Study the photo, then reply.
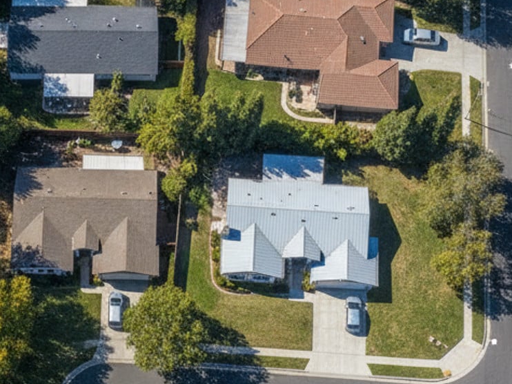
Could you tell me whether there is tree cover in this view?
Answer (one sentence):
Yes, tree cover shows up in the scene.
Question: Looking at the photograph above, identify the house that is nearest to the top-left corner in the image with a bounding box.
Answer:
[0,0,158,104]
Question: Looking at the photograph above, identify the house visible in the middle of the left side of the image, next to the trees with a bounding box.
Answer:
[11,154,158,280]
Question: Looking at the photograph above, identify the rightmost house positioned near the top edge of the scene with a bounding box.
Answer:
[220,0,399,114]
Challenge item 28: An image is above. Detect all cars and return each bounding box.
[106,291,124,330]
[403,29,440,45]
[344,296,362,334]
